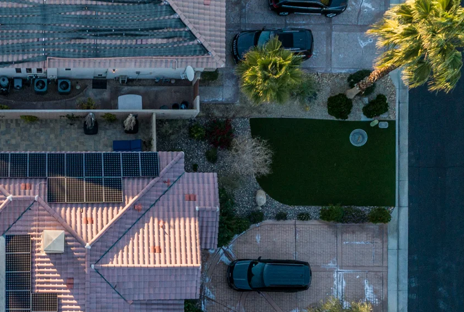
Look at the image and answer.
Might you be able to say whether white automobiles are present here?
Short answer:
No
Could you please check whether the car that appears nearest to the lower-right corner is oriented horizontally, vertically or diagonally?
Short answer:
horizontally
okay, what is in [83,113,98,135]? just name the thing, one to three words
umbrella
